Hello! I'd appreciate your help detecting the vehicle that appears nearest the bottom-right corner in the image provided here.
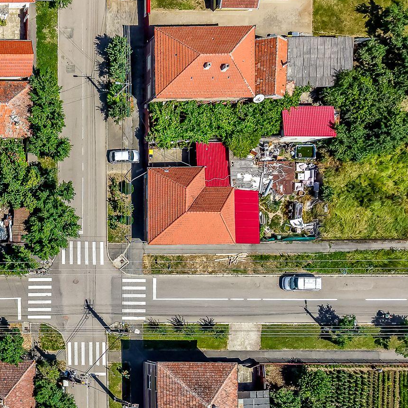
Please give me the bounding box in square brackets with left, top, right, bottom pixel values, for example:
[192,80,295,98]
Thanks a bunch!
[278,274,325,293]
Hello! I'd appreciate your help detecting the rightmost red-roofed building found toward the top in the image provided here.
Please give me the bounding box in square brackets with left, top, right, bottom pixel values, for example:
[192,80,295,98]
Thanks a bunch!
[270,106,337,140]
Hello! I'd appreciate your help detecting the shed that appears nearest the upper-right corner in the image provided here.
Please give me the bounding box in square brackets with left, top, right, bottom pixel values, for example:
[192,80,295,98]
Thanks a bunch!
[287,37,354,90]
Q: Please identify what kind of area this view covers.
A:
residential area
